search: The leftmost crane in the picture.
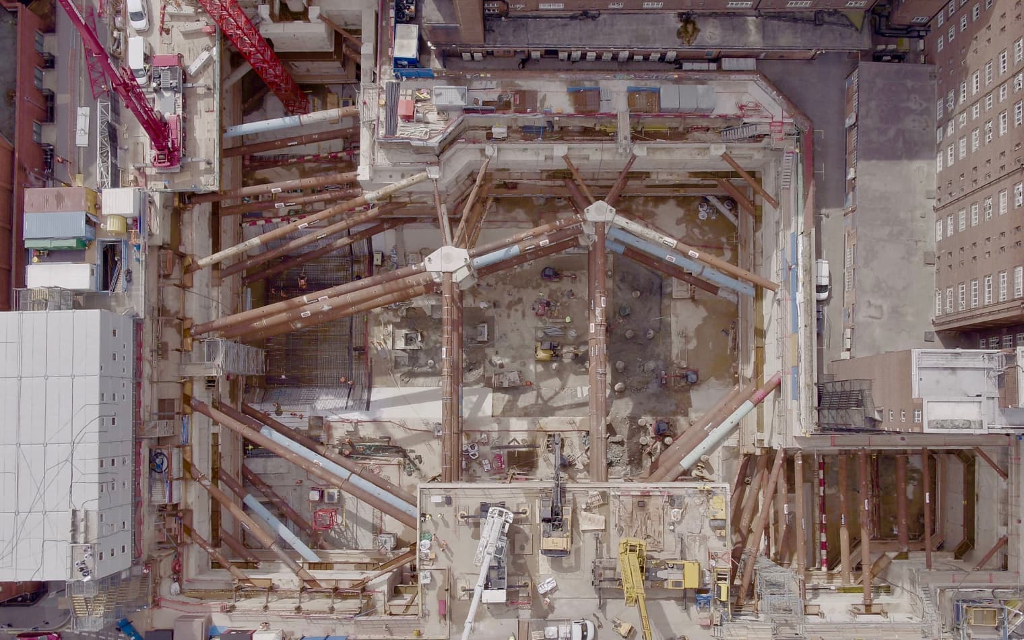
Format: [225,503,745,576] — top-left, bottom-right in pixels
[53,0,204,174]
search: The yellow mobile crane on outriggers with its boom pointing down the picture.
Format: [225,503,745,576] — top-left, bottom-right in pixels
[596,537,705,640]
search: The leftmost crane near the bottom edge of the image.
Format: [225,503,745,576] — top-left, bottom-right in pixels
[460,505,527,640]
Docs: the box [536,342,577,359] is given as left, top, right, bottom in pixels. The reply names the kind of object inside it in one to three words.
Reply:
work vehicle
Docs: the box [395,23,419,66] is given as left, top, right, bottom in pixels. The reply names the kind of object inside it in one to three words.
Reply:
building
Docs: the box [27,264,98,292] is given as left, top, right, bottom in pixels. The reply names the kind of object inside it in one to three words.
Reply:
building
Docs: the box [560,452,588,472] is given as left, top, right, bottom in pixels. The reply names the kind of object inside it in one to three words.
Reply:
work vehicle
